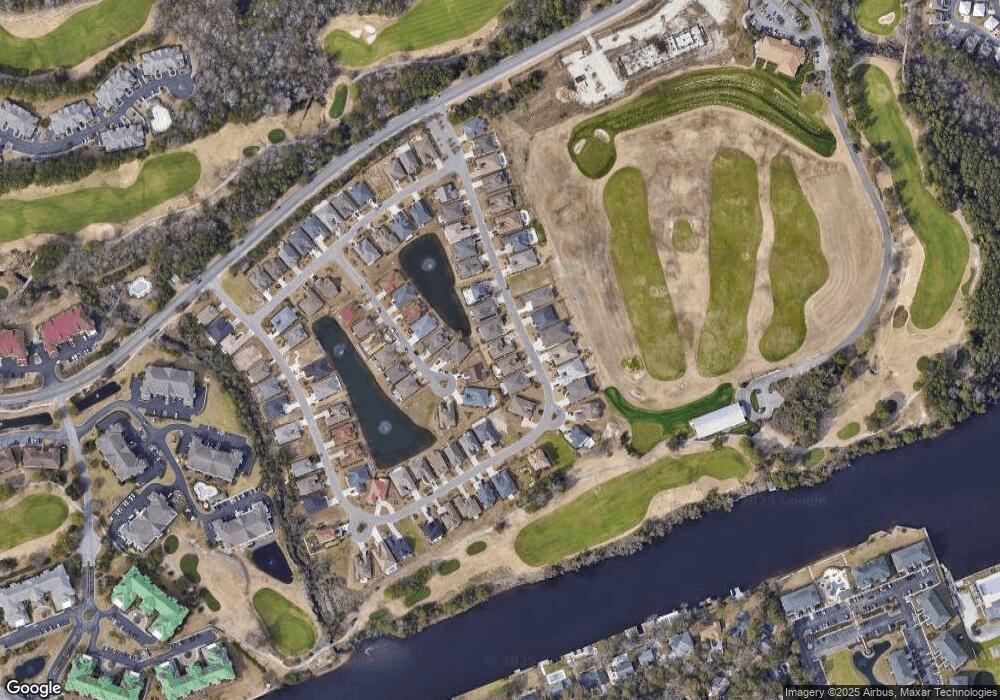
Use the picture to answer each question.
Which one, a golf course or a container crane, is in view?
golf course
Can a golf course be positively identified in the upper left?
Yes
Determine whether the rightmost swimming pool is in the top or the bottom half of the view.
bottom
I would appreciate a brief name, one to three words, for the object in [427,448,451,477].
house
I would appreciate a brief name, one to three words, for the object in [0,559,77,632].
building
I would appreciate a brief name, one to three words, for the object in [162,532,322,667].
golf course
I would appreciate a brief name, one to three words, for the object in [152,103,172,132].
swimming pool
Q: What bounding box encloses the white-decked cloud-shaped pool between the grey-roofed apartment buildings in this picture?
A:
[194,481,218,500]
